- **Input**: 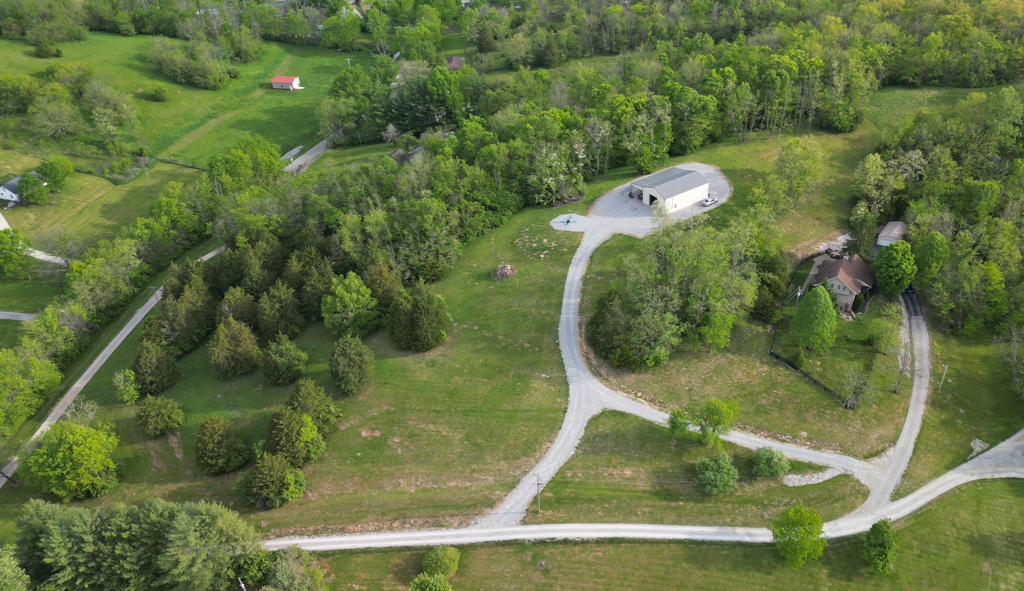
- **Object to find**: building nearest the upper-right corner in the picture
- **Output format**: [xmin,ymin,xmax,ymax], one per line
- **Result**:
[877,217,917,245]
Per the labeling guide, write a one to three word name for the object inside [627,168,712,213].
barn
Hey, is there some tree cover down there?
Yes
